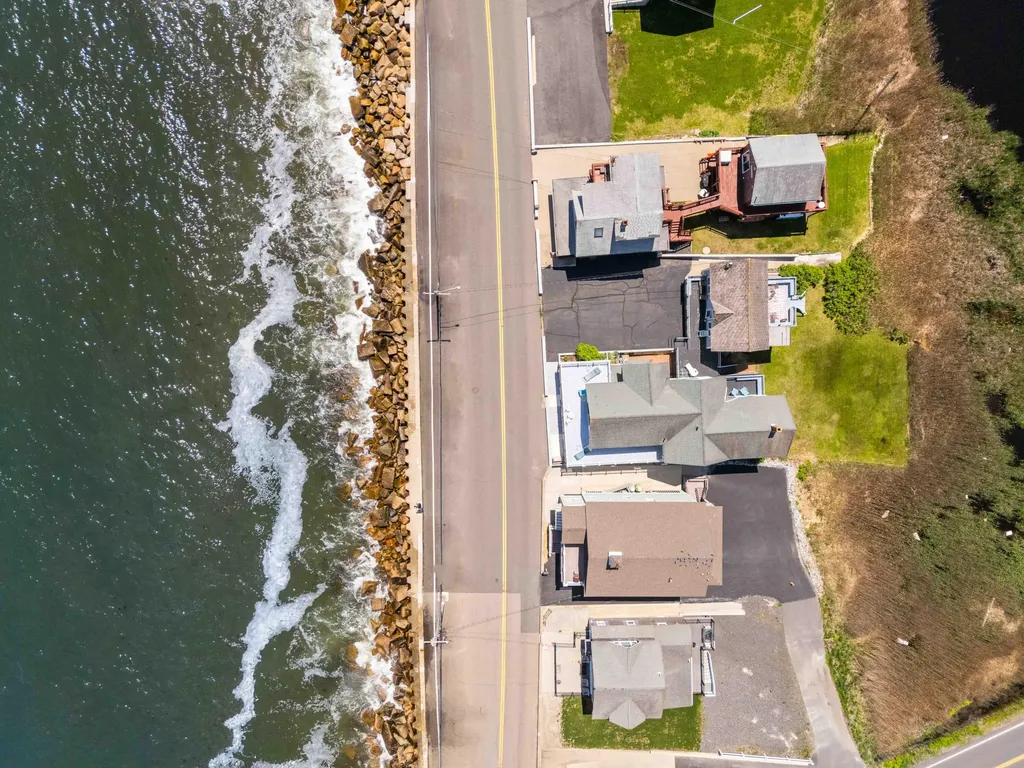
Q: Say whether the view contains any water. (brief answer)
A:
Yes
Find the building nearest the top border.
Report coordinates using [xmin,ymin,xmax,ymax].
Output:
[605,0,650,39]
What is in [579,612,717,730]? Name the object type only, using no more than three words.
house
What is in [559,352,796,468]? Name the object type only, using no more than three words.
house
